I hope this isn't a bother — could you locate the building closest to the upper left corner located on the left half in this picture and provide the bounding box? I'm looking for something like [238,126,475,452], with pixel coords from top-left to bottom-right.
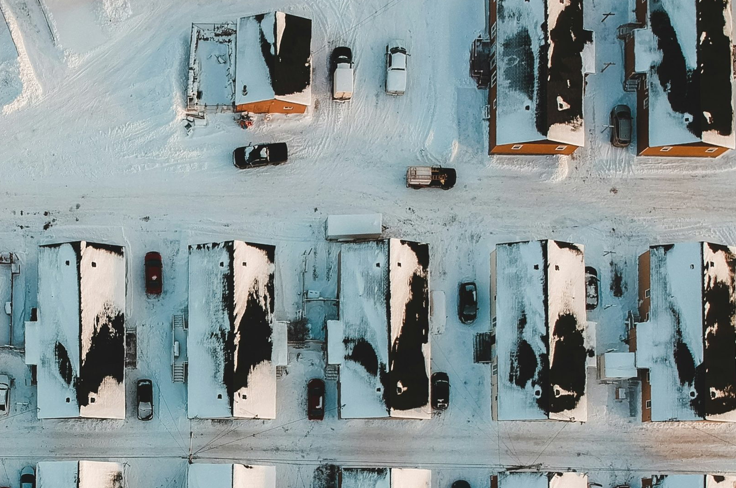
[236,10,313,115]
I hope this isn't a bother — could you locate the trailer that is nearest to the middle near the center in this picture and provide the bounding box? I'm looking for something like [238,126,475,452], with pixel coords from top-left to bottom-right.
[324,214,384,243]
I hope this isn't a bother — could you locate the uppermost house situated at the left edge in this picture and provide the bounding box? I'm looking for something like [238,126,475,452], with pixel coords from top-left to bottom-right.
[25,239,136,419]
